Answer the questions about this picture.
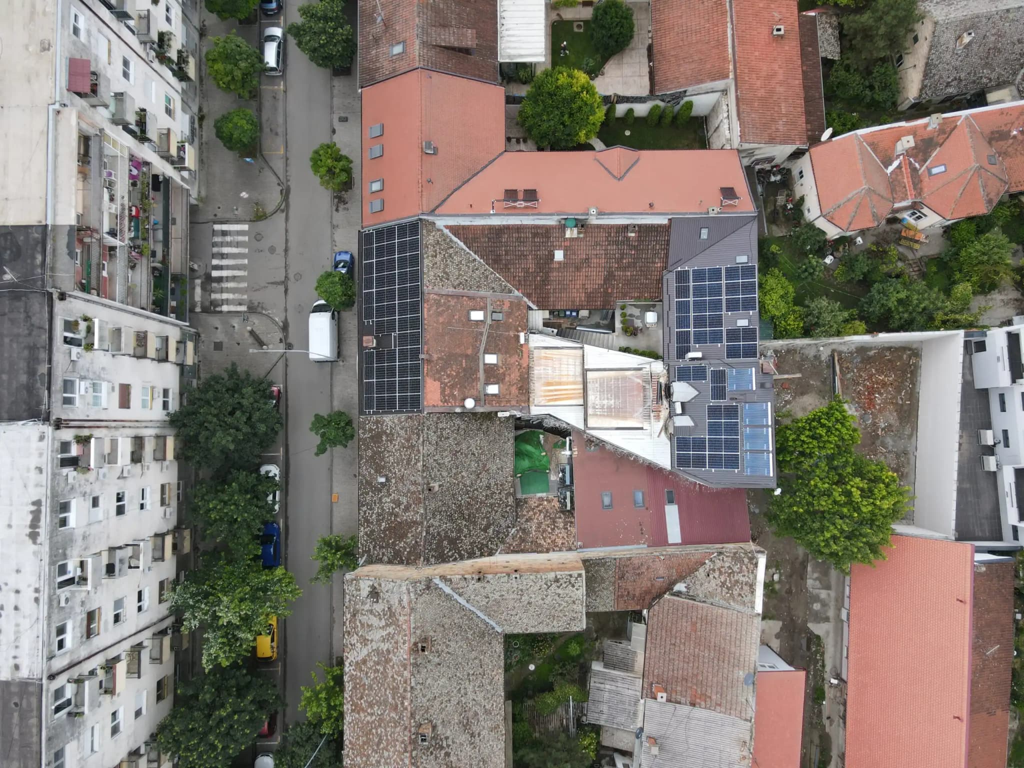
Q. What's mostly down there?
buildings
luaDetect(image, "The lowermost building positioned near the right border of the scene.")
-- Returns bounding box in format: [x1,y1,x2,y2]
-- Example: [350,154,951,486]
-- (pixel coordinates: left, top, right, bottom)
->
[833,534,1013,768]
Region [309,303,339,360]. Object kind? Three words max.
van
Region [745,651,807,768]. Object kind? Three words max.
house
